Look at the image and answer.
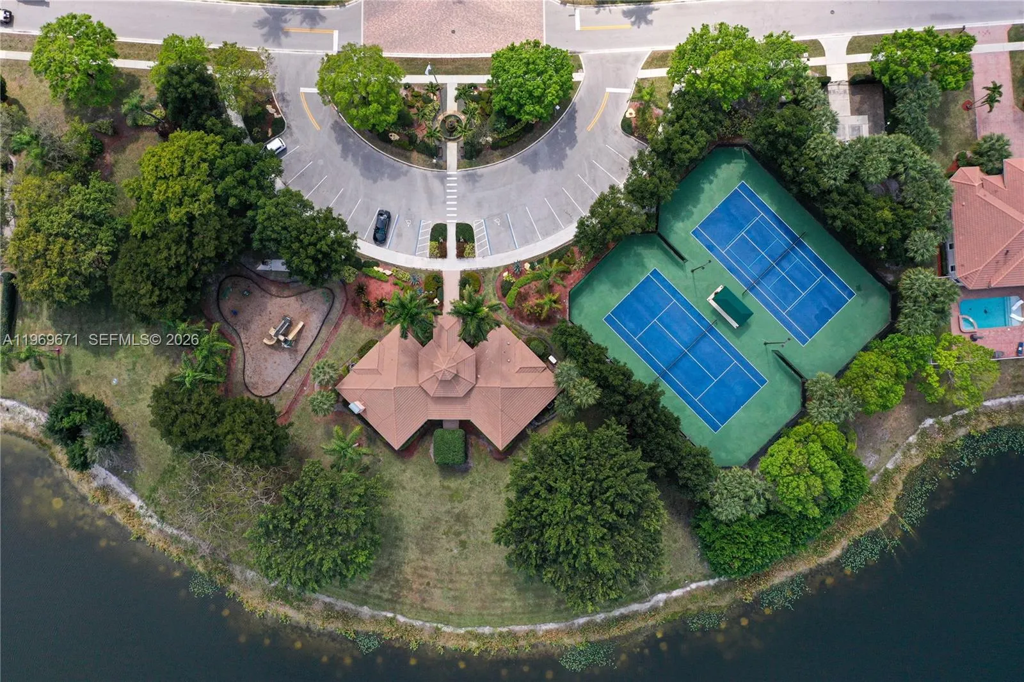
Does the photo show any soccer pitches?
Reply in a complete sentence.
No, there appears to be no soccer pitch in this shot.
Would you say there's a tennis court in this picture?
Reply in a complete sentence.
Yes, I can see a tennis court in this picture.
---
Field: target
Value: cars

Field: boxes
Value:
[373,210,391,245]
[257,135,287,161]
[0,10,14,27]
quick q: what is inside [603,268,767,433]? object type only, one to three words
tennis court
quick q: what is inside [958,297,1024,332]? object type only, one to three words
swimming pool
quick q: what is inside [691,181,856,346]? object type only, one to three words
tennis court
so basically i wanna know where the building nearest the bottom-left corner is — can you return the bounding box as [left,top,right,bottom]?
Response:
[335,315,561,452]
